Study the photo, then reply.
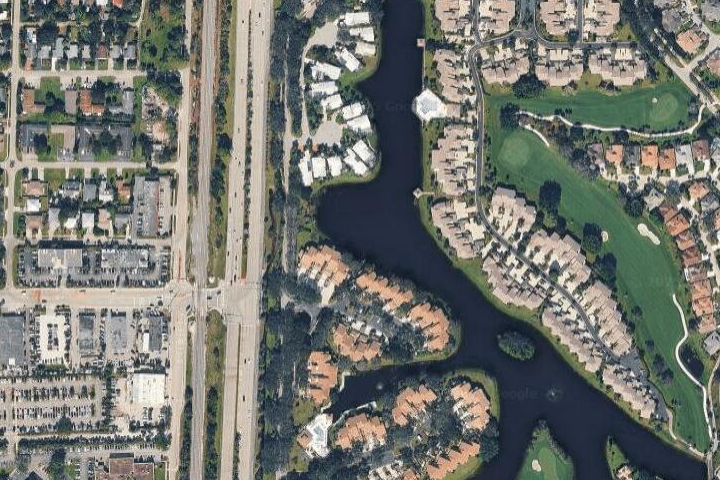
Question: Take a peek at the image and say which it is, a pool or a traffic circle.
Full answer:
The one in the frame is a pool.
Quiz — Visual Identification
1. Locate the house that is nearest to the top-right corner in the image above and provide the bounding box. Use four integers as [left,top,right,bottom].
[701,0,720,21]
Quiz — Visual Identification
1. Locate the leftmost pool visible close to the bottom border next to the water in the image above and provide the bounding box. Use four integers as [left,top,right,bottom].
[305,414,332,459]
